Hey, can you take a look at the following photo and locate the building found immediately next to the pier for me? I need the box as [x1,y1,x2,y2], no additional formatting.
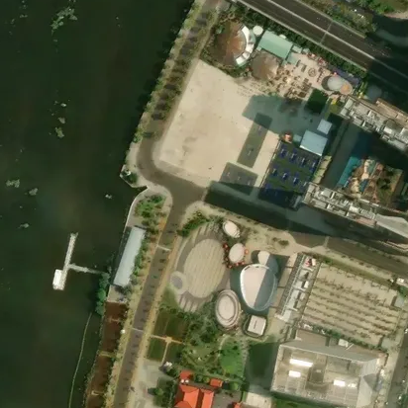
[114,227,148,289]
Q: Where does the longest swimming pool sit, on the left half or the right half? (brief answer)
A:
right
